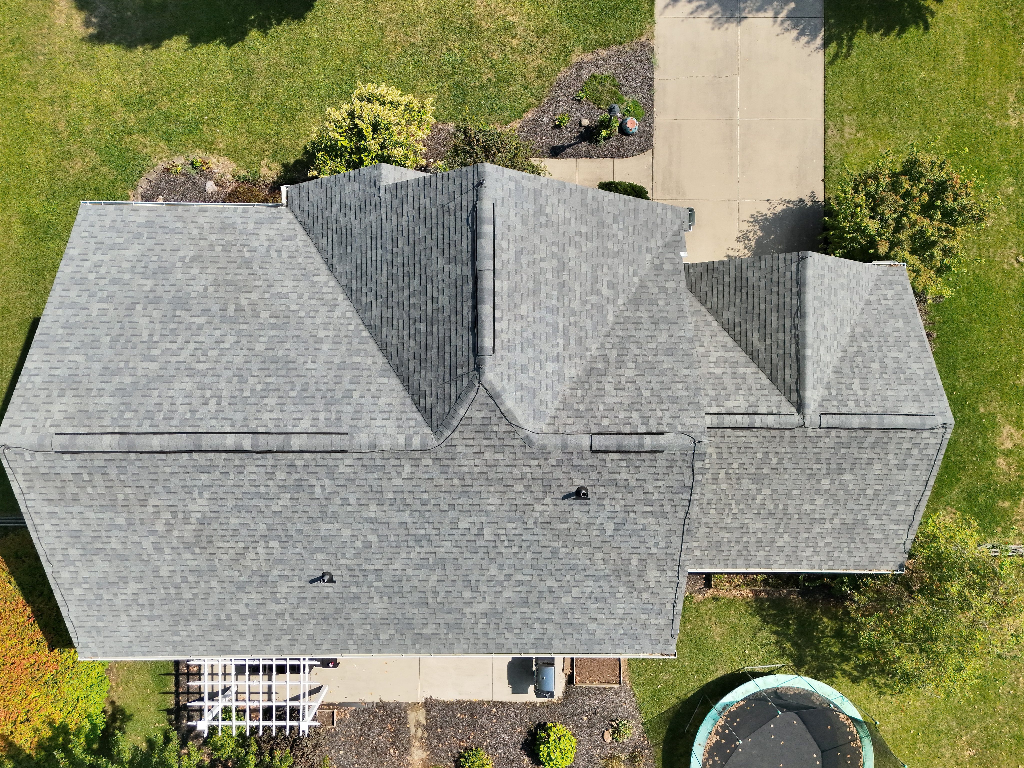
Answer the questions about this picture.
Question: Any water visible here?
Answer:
No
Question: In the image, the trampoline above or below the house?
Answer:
below it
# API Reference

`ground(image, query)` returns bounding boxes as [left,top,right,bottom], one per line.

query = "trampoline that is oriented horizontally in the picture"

[685,662,908,768]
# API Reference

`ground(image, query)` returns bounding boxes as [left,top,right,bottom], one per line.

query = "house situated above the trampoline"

[0,163,955,660]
